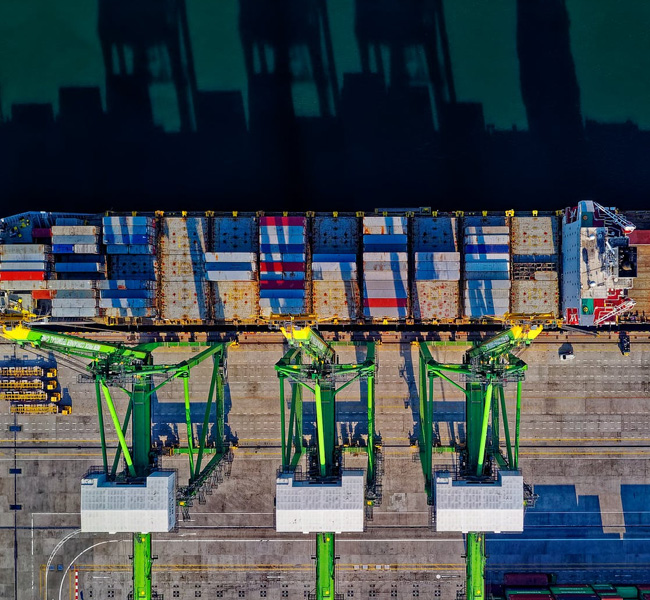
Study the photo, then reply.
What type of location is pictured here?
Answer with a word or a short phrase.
port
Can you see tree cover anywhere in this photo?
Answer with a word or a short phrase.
No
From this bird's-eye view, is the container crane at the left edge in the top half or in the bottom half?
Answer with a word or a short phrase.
bottom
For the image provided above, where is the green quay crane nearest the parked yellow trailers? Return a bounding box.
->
[0,312,234,600]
